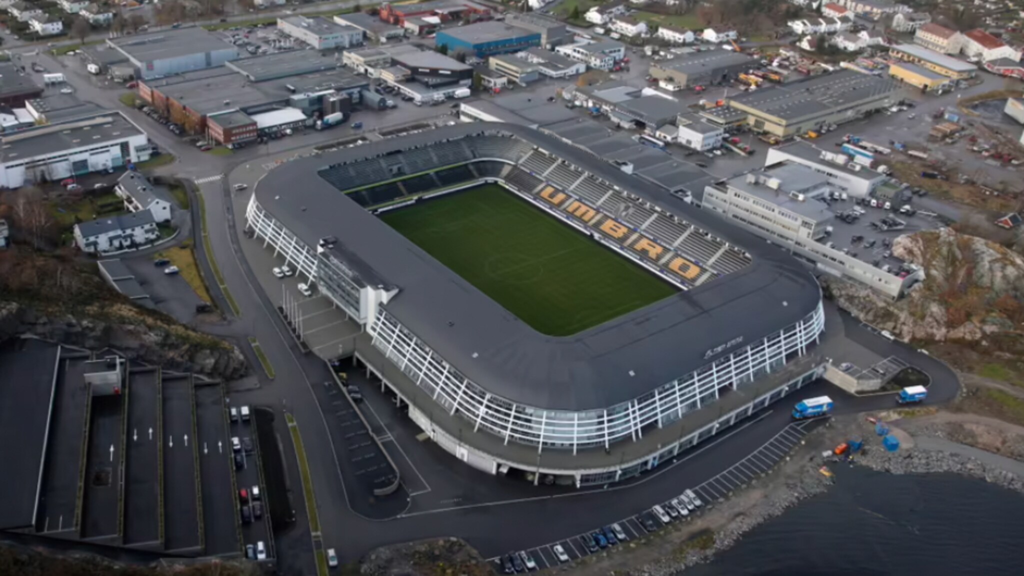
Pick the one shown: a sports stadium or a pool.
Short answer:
sports stadium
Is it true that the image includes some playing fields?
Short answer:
Yes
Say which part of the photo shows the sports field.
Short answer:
center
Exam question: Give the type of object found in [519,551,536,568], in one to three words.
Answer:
car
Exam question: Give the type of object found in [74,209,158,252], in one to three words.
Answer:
house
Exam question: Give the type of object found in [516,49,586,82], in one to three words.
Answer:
building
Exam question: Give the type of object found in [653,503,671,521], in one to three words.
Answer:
vehicle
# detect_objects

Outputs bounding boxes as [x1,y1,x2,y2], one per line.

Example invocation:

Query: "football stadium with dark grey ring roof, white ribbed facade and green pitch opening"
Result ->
[206,114,851,489]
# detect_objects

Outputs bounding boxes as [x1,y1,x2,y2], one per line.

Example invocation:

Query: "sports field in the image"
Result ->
[370,184,679,336]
